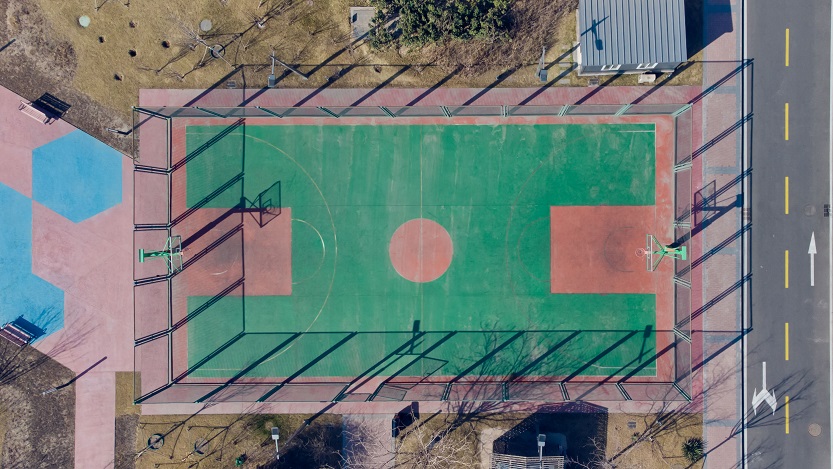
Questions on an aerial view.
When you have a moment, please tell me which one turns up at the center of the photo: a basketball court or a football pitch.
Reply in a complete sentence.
What appears at the center of the photo is a basketball court.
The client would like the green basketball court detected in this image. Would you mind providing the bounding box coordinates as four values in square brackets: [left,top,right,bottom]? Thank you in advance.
[171,116,674,384]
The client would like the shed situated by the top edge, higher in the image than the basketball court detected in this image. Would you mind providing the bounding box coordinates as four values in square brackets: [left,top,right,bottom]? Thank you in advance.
[570,0,688,80]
